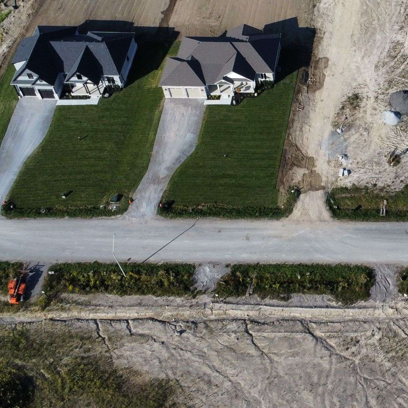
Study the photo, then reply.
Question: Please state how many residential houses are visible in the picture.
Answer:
two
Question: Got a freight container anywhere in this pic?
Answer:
No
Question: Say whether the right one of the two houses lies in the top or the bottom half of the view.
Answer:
top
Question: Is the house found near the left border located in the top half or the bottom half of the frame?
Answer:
top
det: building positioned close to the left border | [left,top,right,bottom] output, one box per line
[6,22,138,99]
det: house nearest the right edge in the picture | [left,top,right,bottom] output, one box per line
[158,23,281,99]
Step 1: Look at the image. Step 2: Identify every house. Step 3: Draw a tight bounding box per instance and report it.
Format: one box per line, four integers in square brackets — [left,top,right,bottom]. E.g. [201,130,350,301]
[6,22,138,99]
[158,23,281,99]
